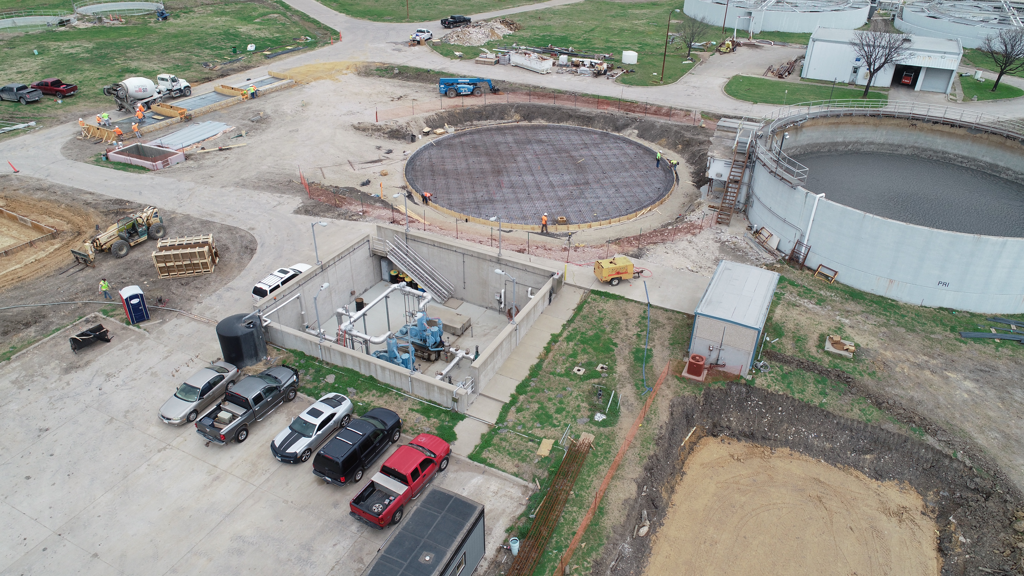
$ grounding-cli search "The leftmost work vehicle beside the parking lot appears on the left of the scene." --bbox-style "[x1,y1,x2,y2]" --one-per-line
[69,204,164,274]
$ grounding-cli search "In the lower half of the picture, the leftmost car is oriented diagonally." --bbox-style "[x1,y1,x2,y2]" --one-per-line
[151,360,243,431]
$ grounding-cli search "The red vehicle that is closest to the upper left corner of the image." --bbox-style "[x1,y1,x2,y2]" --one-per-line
[32,80,77,98]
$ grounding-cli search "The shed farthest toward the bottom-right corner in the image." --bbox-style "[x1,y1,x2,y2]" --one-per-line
[689,265,779,372]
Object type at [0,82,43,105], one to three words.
truck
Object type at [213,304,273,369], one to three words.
storage tank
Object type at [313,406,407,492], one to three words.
car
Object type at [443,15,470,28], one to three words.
vehicle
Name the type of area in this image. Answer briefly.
industrial area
